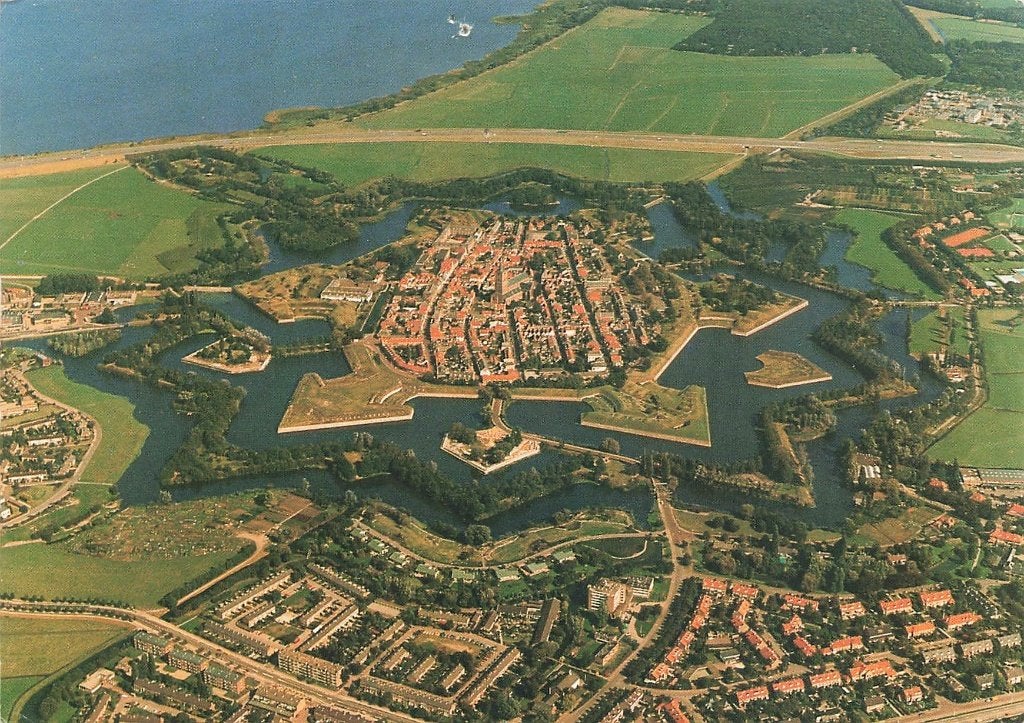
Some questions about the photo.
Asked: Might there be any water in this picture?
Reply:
Yes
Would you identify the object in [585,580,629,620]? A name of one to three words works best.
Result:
building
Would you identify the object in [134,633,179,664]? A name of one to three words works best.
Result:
building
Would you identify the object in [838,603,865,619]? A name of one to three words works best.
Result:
house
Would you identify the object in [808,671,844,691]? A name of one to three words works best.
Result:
house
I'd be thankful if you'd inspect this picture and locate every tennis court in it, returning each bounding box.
[956,247,994,256]
[945,227,990,247]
